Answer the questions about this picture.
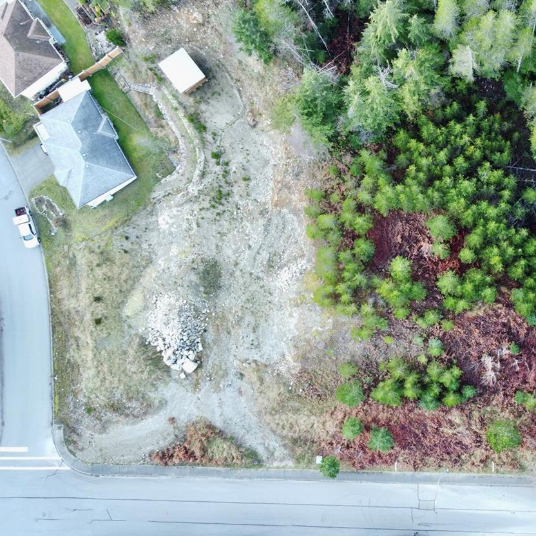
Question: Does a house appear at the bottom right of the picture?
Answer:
No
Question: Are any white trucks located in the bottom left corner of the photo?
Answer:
No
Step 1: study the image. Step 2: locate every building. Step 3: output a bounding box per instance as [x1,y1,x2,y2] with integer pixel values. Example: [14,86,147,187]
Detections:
[0,0,73,100]
[159,47,212,97]
[33,91,140,209]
